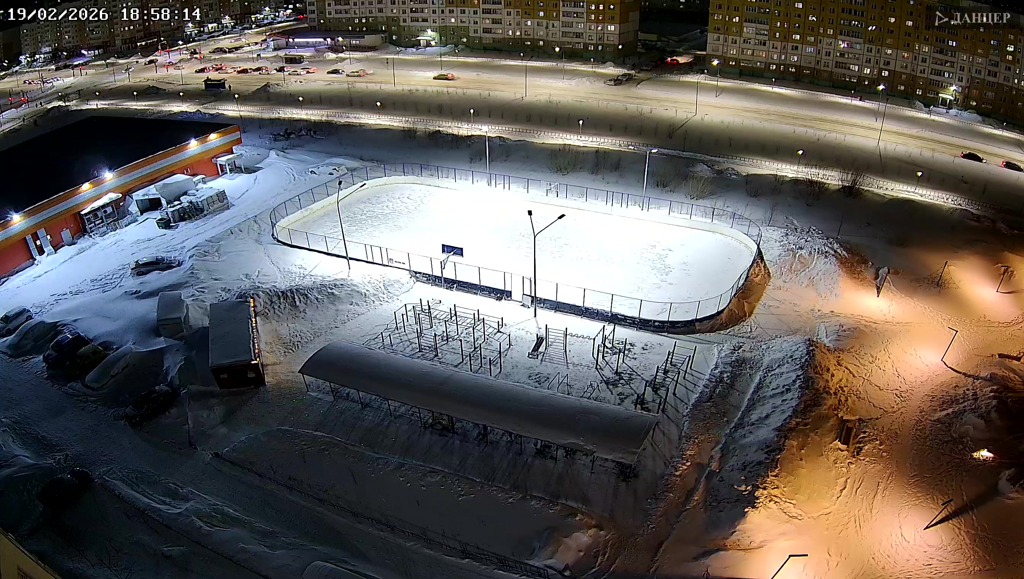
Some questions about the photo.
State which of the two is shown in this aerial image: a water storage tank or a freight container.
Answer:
freight container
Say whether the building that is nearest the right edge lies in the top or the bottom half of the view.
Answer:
top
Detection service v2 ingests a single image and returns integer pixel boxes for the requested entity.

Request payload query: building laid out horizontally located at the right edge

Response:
[707,0,1024,136]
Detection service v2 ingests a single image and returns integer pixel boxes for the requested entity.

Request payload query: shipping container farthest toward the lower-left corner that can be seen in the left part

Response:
[196,304,264,389]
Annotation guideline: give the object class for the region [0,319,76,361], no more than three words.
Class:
car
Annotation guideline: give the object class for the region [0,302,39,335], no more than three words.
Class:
car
